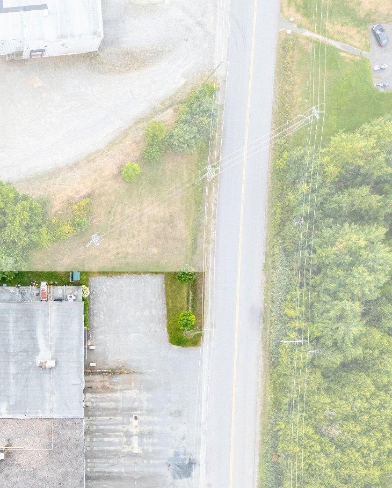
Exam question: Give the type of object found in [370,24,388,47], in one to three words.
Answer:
car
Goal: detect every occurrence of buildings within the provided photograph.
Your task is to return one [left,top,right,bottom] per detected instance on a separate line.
[0,0,104,55]
[0,300,86,488]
